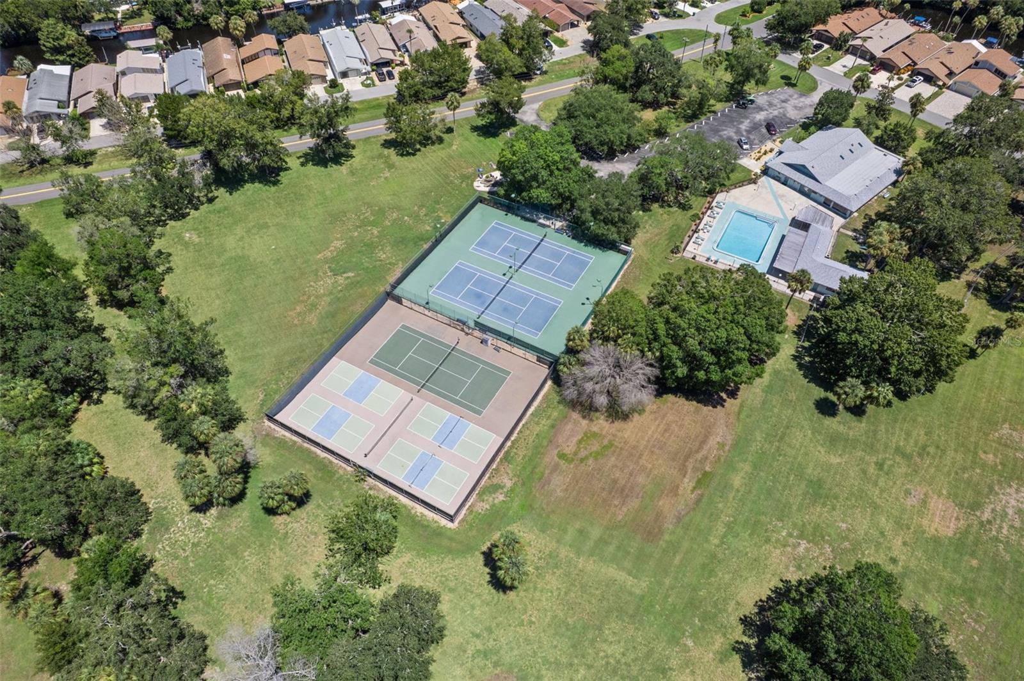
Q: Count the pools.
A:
one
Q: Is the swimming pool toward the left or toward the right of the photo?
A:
right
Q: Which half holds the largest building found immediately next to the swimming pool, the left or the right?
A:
right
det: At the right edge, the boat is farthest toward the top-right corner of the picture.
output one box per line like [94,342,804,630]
[981,32,1001,46]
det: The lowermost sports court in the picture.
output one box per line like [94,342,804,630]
[377,438,469,505]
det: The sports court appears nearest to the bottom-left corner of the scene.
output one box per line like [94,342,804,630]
[288,393,375,453]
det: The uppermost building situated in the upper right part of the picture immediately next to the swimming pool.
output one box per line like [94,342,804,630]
[766,127,907,220]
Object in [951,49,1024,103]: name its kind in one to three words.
house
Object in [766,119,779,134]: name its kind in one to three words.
vehicle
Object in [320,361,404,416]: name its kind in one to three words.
sports court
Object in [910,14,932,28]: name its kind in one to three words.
boat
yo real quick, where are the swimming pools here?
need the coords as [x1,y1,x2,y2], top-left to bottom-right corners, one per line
[713,207,781,266]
